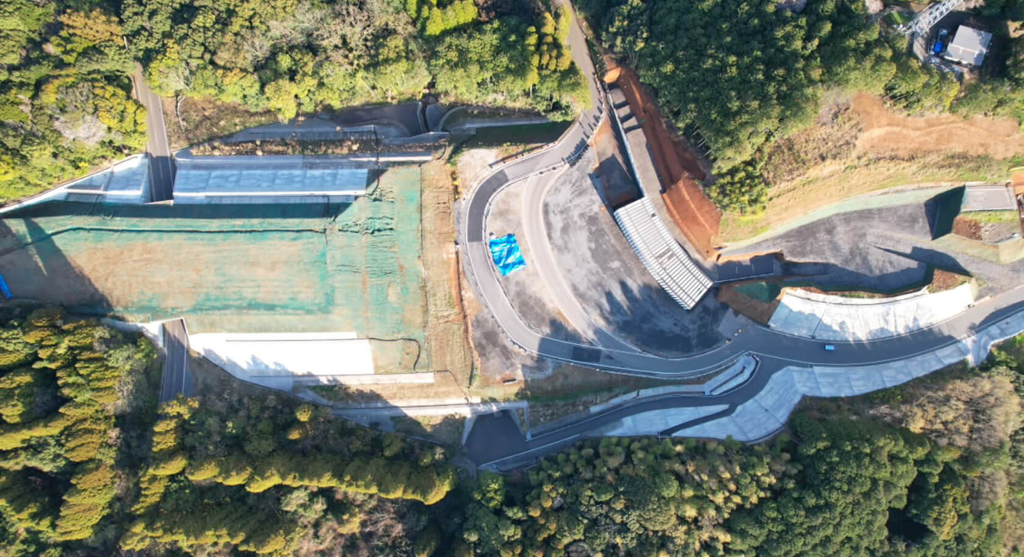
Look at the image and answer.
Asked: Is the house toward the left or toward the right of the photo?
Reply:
right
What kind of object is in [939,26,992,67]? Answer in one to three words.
house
